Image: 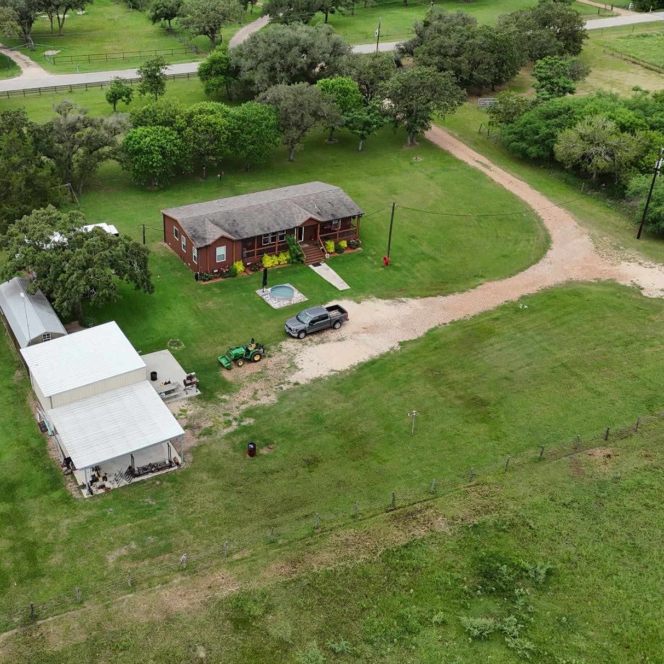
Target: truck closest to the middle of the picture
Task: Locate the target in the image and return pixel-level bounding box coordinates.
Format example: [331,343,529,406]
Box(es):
[280,303,350,340]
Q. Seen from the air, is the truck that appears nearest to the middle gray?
Yes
